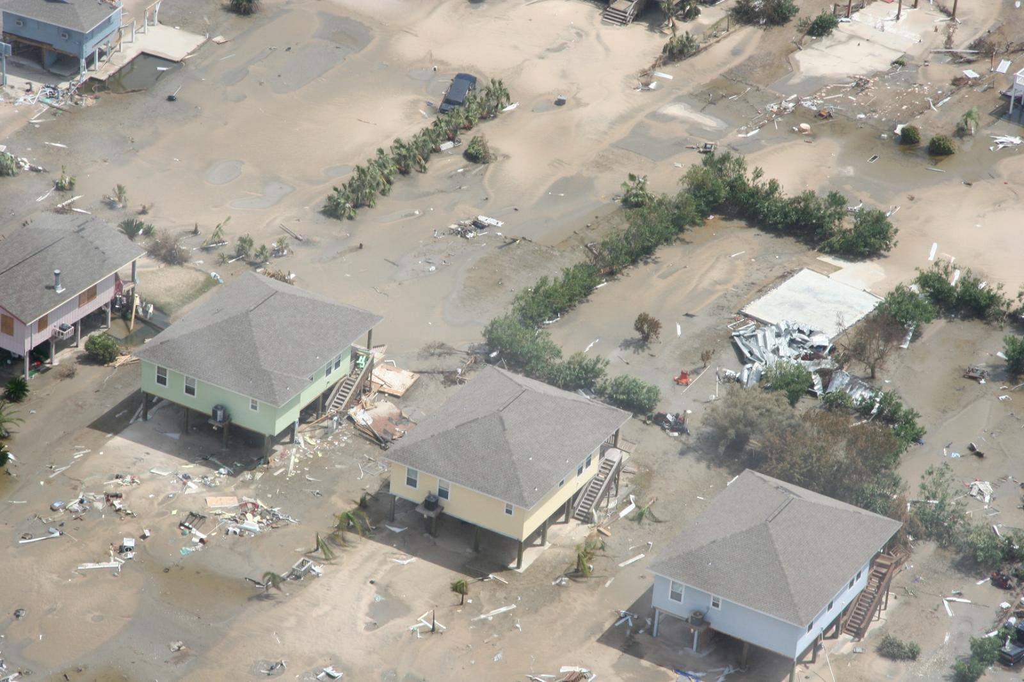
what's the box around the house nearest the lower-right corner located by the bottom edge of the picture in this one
[645,469,905,682]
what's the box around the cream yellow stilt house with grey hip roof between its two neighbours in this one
[383,365,635,570]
